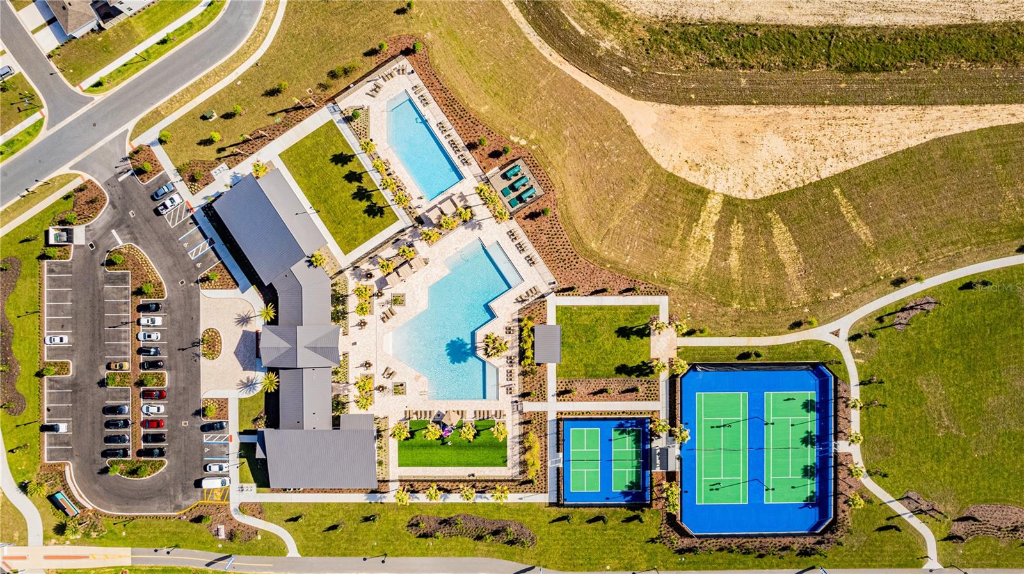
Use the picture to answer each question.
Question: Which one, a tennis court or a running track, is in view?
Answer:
tennis court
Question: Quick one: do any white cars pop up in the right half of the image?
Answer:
No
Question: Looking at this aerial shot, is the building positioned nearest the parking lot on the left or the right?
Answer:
left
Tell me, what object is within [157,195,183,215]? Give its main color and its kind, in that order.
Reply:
white vehicle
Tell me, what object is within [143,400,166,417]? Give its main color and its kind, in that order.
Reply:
white car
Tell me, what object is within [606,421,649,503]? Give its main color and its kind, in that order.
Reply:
green sports court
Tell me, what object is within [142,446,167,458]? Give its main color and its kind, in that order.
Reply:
black vehicle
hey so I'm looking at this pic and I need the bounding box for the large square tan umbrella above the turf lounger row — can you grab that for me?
[443,408,461,426]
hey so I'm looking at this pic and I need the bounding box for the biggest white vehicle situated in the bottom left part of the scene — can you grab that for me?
[200,475,231,489]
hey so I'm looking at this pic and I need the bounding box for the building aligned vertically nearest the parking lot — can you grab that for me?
[212,168,378,489]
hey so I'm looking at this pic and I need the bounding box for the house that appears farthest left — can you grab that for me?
[46,0,102,36]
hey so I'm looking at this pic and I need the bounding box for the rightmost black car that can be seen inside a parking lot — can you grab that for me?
[202,420,227,432]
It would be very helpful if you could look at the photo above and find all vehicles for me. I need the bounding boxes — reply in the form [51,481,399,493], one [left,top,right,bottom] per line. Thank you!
[46,335,69,345]
[0,64,16,80]
[143,433,167,444]
[104,448,131,459]
[138,331,161,341]
[142,446,167,458]
[157,195,183,215]
[141,359,165,370]
[140,316,164,327]
[202,420,227,432]
[106,419,130,430]
[109,361,132,371]
[139,346,163,357]
[153,182,176,200]
[143,400,166,417]
[142,419,165,429]
[138,302,162,313]
[207,462,230,473]
[142,389,166,400]
[200,475,231,489]
[45,423,69,433]
[106,434,130,444]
